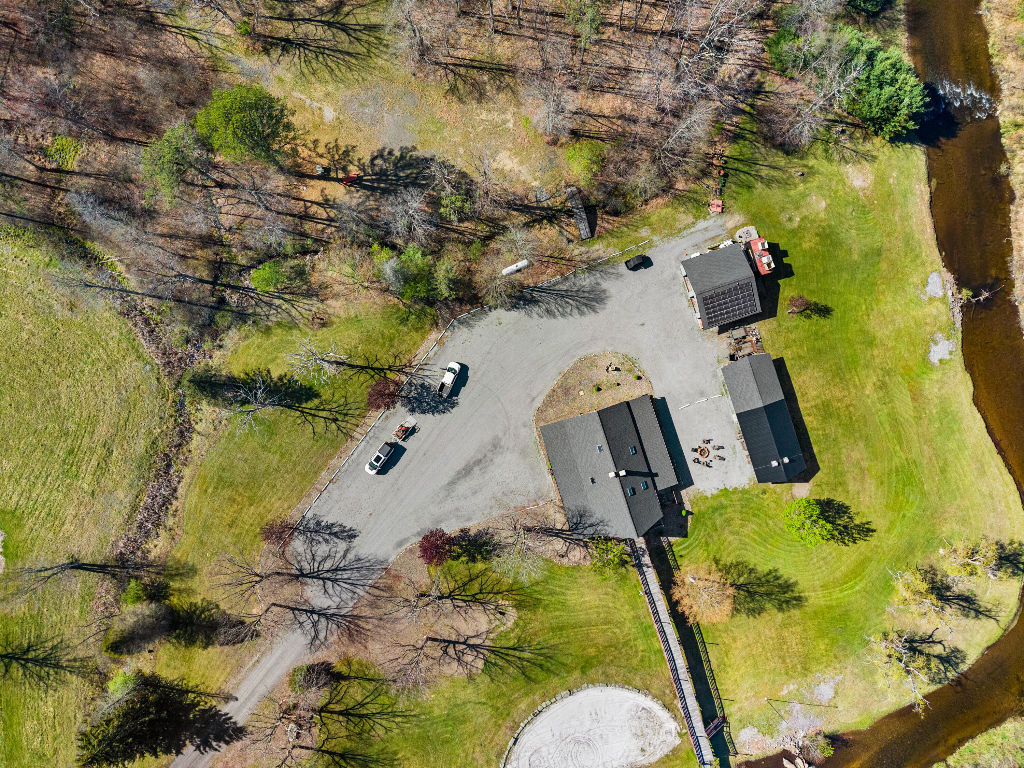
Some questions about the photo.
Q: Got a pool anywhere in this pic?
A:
No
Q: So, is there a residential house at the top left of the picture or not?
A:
No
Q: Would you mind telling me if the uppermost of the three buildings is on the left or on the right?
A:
right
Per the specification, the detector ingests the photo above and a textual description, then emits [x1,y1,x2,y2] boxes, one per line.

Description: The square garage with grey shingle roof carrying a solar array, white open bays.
[678,242,761,331]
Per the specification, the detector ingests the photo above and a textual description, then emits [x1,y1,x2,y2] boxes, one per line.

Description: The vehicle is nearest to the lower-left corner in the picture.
[365,441,394,475]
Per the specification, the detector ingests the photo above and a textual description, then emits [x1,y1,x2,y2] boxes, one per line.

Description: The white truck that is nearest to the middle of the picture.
[435,360,457,399]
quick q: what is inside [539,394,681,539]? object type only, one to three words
house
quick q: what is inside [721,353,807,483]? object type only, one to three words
building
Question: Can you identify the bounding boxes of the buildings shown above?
[721,353,807,483]
[678,242,761,331]
[539,394,681,539]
